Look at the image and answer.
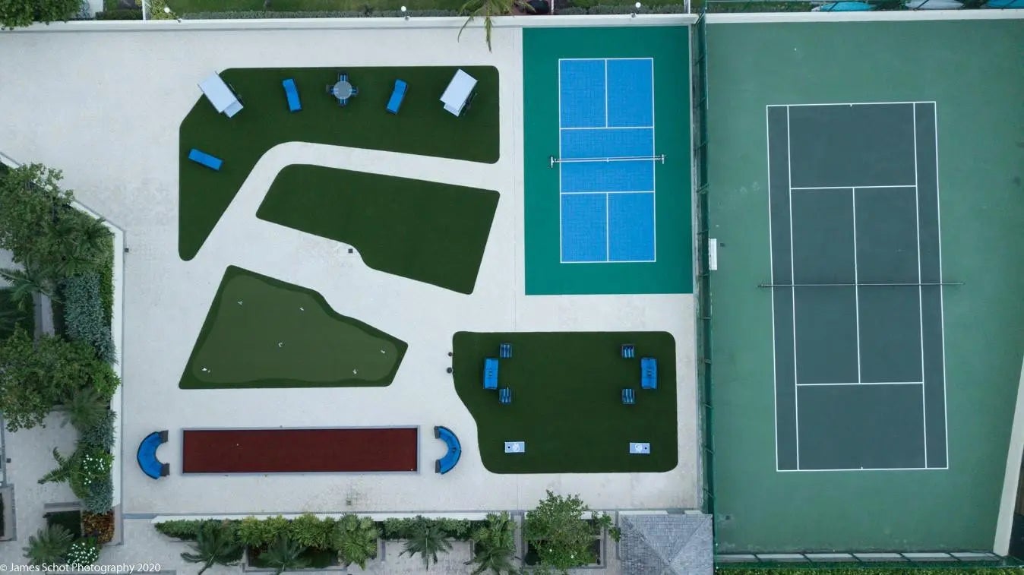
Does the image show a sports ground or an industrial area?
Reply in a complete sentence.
The picture captures a sports ground.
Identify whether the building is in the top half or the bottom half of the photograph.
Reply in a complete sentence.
It is in the bottom half that the building appears.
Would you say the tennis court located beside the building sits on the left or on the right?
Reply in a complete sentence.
You can find the tennis court located beside the building on the right side of the picture.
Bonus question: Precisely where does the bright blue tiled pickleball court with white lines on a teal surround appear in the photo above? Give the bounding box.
[523,26,693,295]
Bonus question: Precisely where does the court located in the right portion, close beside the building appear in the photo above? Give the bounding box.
[700,18,1024,555]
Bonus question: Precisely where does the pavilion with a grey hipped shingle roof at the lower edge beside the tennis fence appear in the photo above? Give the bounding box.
[619,513,712,575]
